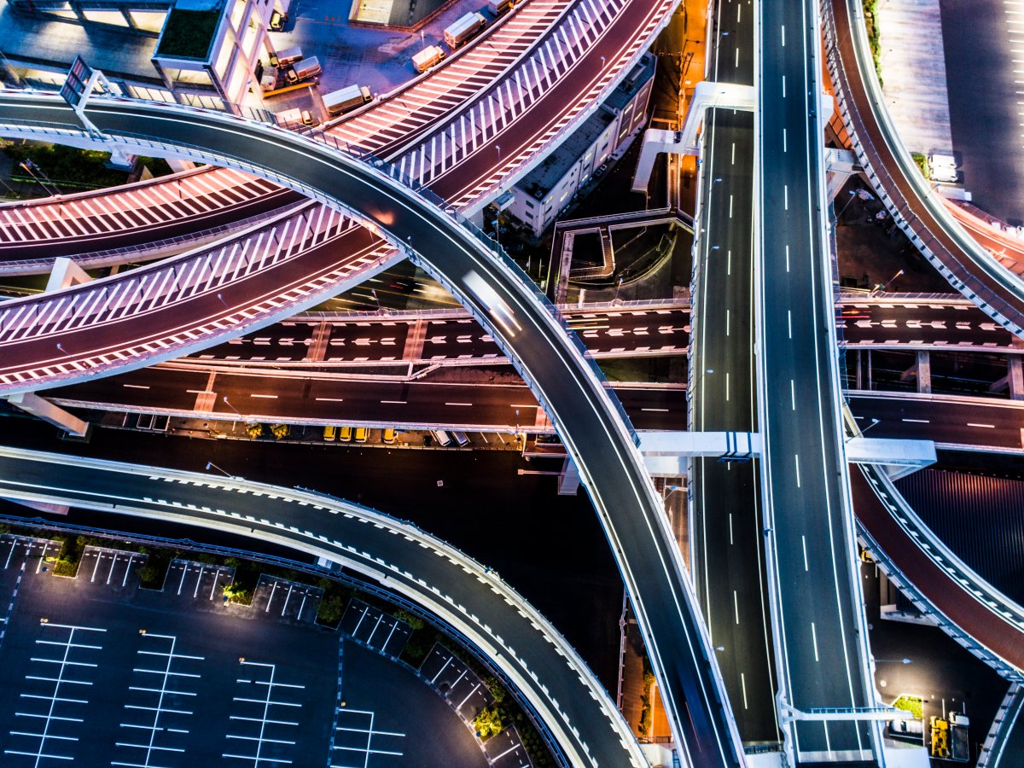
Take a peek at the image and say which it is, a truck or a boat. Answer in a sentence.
The image shows a truck.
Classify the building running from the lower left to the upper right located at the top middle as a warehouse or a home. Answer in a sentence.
In the photo, the building running from the lower left to the upper right located at the top middle shows up as a warehouse.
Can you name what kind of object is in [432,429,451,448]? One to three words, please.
car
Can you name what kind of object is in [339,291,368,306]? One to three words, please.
car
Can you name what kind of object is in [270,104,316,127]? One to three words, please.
truck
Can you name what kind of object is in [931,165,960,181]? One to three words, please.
vehicle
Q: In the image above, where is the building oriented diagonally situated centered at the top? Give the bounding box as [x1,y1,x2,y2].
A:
[491,54,658,233]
